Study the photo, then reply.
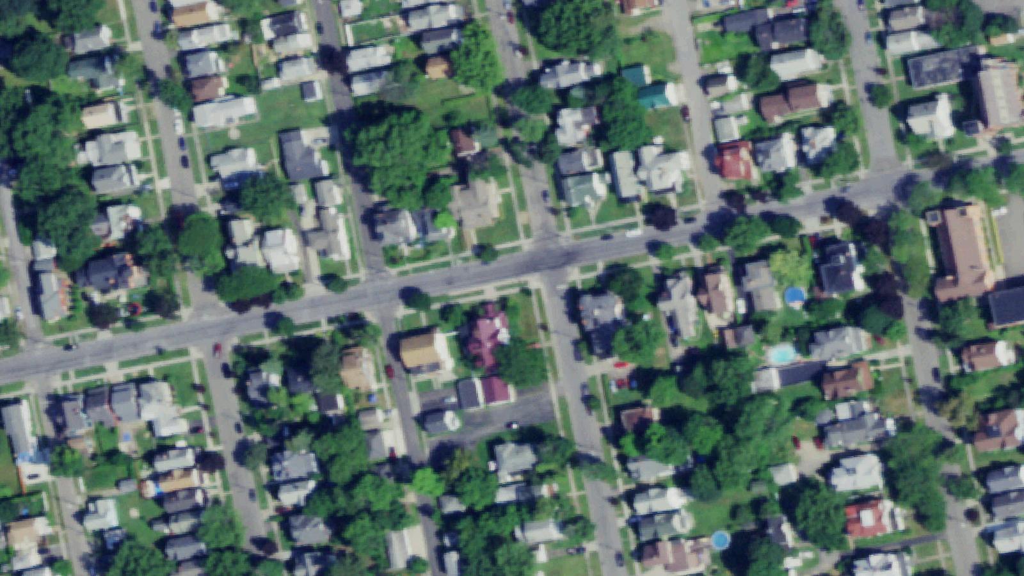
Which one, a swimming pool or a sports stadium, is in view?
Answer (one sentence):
The image shows a swimming pool.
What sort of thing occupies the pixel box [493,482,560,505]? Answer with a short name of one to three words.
house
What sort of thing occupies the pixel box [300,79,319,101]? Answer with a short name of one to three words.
shed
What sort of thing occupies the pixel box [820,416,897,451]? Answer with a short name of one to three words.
house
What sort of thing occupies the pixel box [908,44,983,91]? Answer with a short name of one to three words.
building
